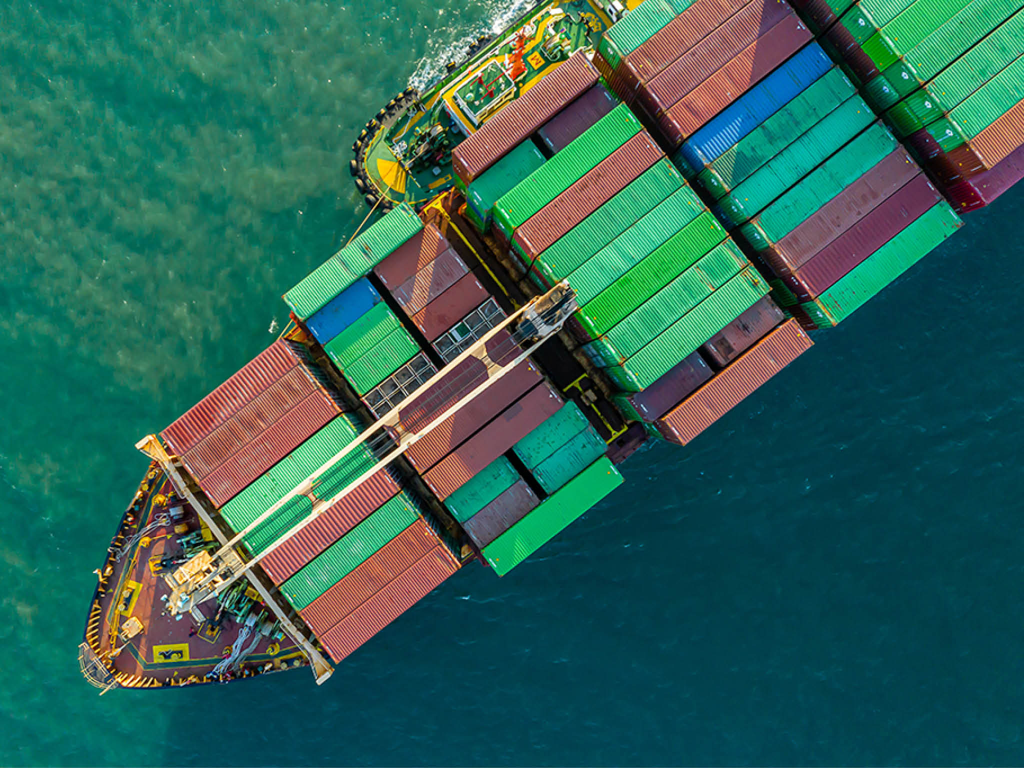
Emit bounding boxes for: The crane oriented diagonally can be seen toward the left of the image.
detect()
[156,277,580,627]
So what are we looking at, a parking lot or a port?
port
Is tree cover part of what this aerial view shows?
No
